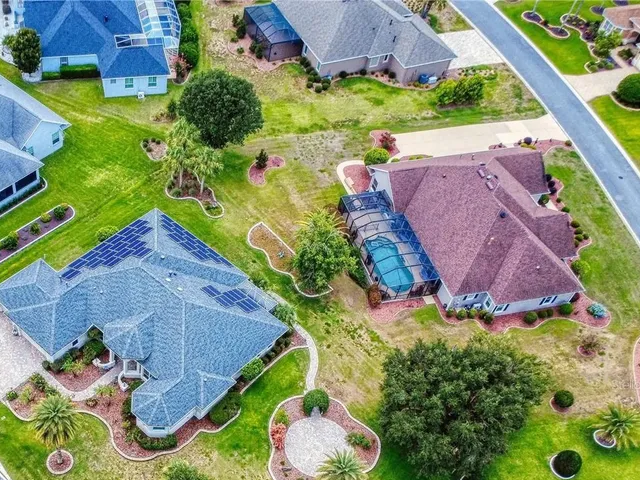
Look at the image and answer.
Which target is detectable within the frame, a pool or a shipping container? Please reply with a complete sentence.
There is a pool in the scene.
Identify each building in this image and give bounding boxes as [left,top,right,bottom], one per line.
[365,150,586,316]
[0,208,289,436]
[272,0,458,84]
[23,0,172,95]
[597,1,640,71]
[0,75,72,208]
